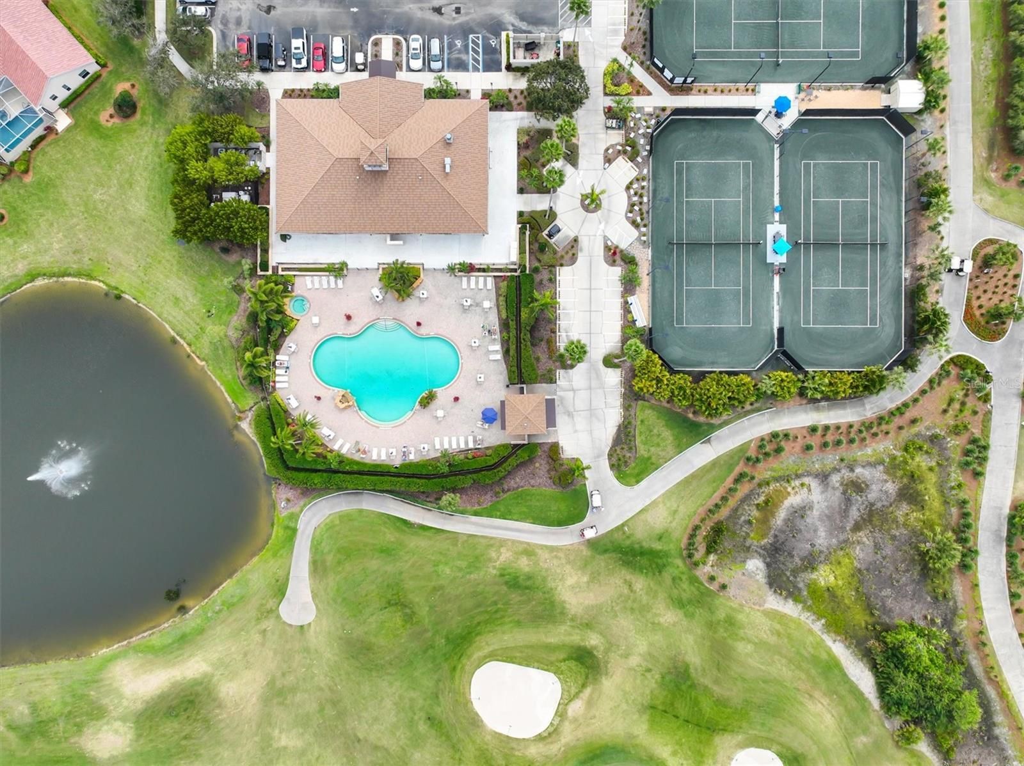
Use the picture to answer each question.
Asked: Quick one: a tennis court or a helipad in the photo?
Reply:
tennis court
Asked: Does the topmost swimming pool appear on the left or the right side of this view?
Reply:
left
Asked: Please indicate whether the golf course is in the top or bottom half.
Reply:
bottom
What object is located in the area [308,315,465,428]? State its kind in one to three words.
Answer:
swimming pool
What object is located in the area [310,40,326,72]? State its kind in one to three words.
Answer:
car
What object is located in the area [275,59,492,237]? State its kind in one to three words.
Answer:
building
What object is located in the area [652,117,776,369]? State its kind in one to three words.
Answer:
tennis court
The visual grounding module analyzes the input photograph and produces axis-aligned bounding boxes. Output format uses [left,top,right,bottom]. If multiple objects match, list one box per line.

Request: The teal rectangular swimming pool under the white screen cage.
[0,104,45,156]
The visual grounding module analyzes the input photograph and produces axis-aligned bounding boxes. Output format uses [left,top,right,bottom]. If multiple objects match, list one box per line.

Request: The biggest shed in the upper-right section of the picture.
[881,81,926,113]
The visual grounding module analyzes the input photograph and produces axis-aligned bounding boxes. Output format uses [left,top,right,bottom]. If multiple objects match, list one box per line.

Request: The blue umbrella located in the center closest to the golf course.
[482,408,497,423]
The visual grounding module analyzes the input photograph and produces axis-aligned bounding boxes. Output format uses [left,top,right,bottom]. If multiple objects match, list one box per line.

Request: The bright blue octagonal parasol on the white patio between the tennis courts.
[773,97,789,114]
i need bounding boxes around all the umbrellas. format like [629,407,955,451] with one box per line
[773,97,789,114]
[771,236,791,256]
[482,408,497,423]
